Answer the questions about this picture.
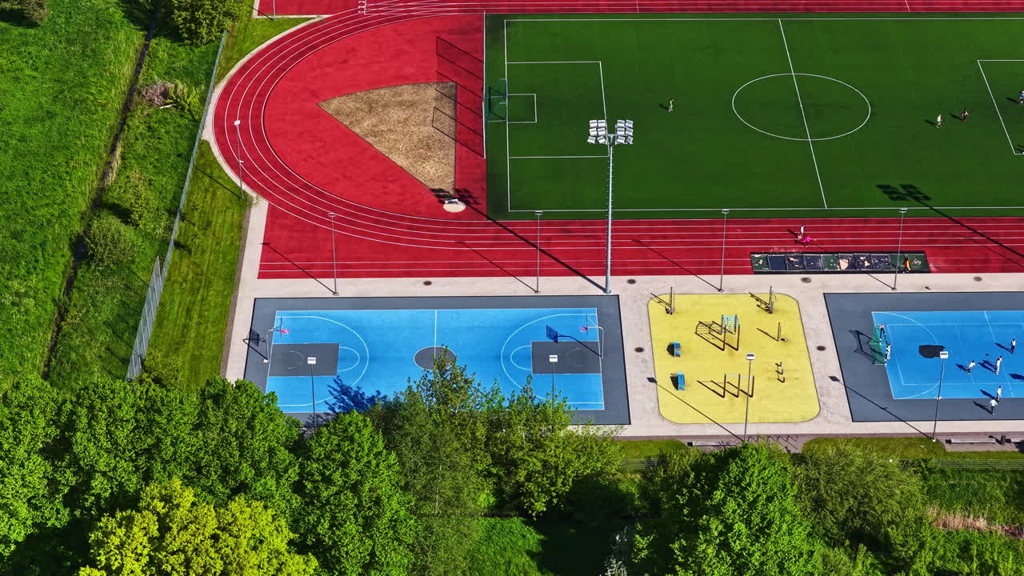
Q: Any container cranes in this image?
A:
No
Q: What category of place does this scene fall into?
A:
sports ground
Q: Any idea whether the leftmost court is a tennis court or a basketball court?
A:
basketball court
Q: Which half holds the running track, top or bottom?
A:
top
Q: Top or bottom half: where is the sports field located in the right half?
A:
top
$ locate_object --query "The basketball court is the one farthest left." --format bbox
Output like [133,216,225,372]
[242,294,633,427]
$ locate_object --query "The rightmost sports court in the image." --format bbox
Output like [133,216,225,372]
[822,291,1024,423]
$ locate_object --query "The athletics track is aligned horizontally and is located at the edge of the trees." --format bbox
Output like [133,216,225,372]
[212,0,1024,278]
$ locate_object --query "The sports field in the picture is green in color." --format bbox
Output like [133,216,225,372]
[485,11,1024,220]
